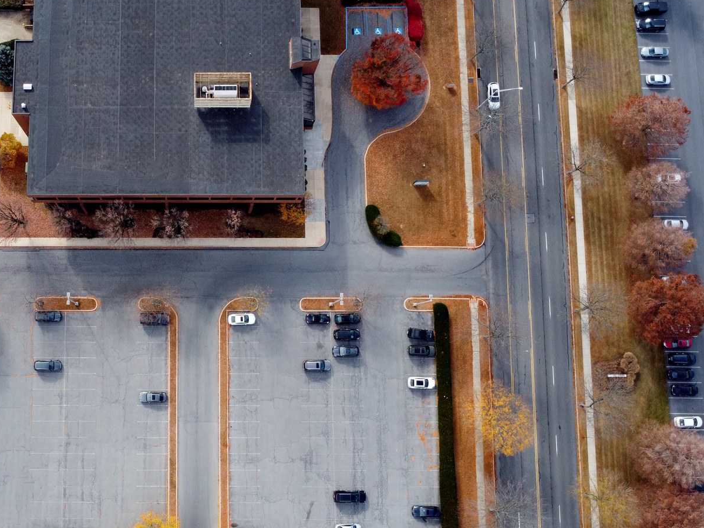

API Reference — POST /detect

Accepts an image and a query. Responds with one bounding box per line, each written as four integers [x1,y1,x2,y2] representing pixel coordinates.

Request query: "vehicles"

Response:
[303,361,330,372]
[332,490,366,504]
[673,415,702,429]
[332,329,359,341]
[407,377,435,390]
[333,313,360,324]
[405,328,434,340]
[139,313,169,325]
[139,391,167,404]
[645,74,670,86]
[33,360,63,373]
[634,1,668,14]
[333,523,361,528]
[666,368,694,380]
[306,313,329,324]
[35,310,63,323]
[486,83,501,110]
[228,314,255,325]
[663,338,692,349]
[640,45,668,59]
[666,352,696,366]
[331,345,359,358]
[668,383,698,397]
[408,345,435,358]
[635,19,666,31]
[411,500,440,519]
